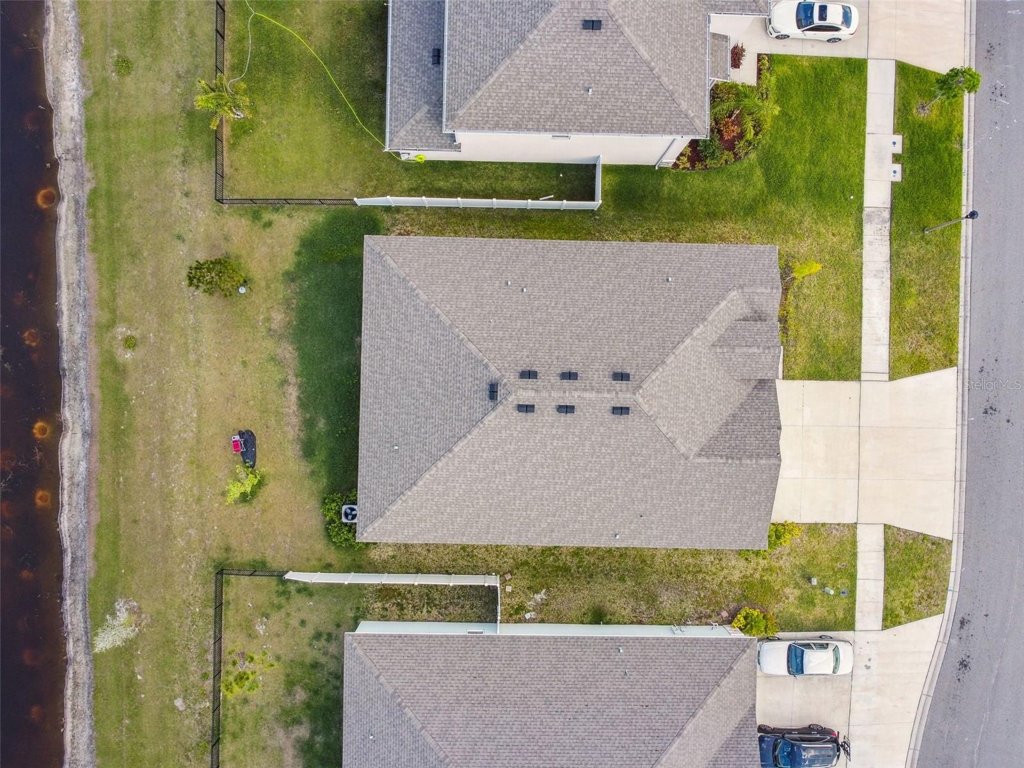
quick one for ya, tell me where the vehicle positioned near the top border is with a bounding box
[766,0,861,45]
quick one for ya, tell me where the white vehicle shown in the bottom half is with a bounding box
[758,634,854,680]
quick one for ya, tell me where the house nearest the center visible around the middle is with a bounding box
[356,235,783,551]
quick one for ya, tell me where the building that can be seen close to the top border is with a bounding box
[384,0,773,171]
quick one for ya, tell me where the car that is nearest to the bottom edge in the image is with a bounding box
[758,723,841,768]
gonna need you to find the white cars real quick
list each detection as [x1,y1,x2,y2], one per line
[758,634,854,680]
[766,0,861,45]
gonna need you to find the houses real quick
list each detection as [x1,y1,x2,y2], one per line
[356,235,783,551]
[341,622,762,768]
[384,0,773,171]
